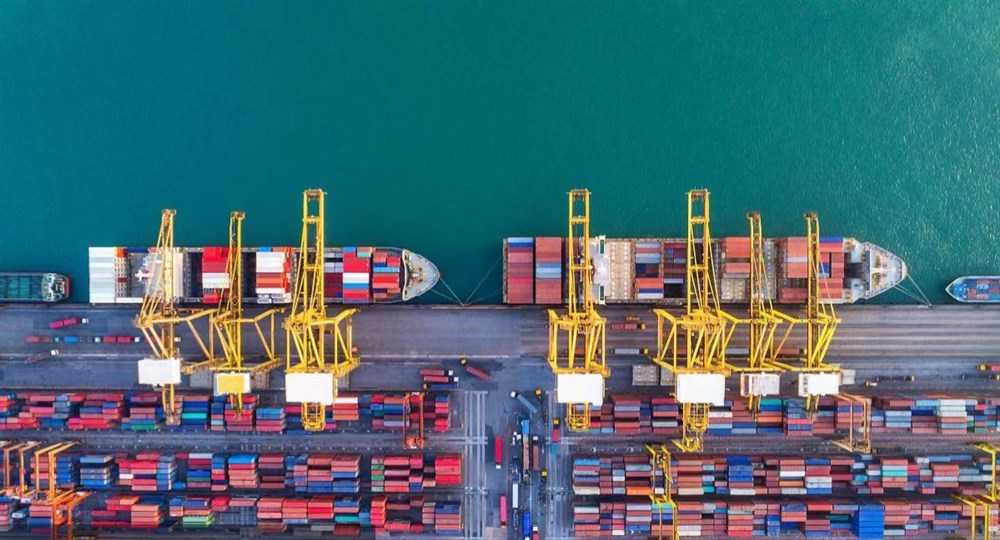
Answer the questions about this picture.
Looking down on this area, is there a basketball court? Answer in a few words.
No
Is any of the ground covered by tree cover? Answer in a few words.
No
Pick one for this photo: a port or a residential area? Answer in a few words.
port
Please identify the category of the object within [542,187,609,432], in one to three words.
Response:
container crane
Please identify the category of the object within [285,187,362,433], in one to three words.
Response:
container crane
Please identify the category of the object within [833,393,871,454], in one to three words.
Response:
crane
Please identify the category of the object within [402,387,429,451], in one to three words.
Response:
crane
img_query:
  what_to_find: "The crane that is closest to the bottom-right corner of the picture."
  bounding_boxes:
[949,493,991,540]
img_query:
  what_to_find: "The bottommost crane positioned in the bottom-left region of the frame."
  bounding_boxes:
[52,490,95,540]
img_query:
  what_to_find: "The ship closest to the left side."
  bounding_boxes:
[0,272,73,304]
